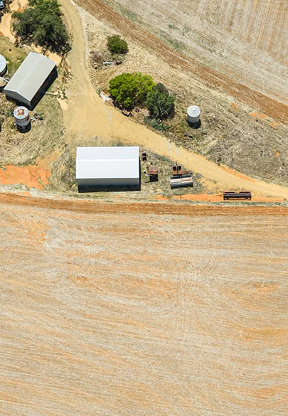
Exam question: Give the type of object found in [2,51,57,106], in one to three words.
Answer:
shed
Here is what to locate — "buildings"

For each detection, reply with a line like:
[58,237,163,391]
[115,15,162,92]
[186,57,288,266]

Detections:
[2,51,57,106]
[76,146,139,187]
